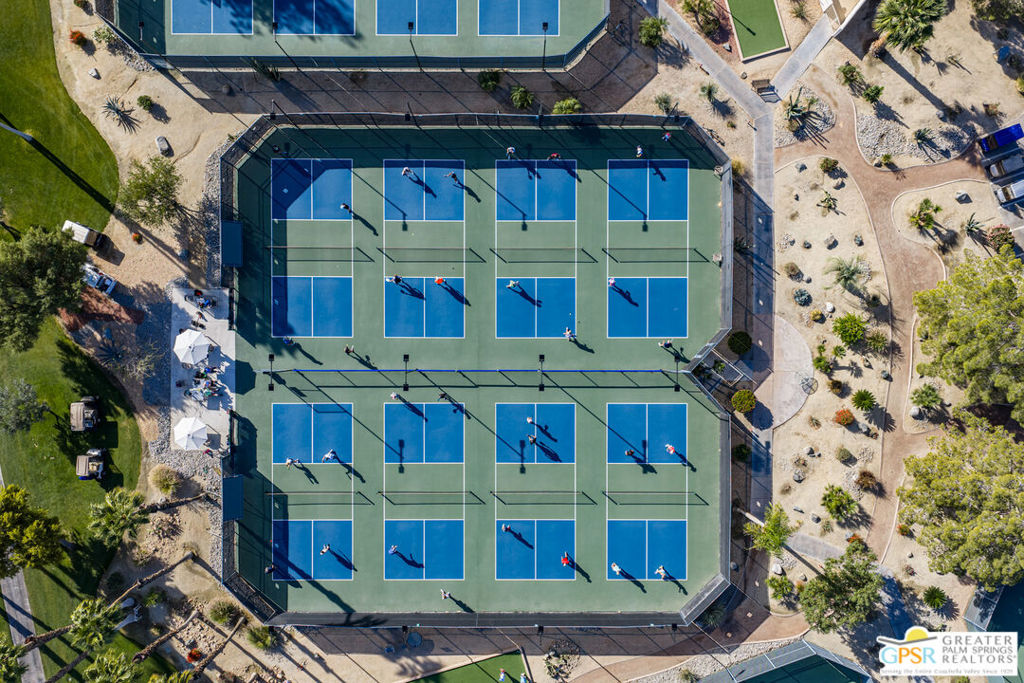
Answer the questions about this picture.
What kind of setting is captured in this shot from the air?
sports ground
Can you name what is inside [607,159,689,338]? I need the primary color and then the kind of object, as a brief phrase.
blue sports court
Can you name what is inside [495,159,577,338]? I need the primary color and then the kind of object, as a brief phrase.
blue sports court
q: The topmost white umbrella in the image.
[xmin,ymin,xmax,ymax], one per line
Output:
[172,325,213,366]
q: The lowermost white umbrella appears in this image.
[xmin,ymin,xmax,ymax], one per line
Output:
[172,414,209,450]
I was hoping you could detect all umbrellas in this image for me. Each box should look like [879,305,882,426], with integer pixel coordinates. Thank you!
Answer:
[172,325,213,366]
[172,414,209,450]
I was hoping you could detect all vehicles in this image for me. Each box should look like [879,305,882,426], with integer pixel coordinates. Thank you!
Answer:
[984,152,1024,182]
[63,222,108,251]
[77,446,104,480]
[976,123,1023,154]
[71,398,98,431]
[991,181,1024,208]
[82,265,124,297]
